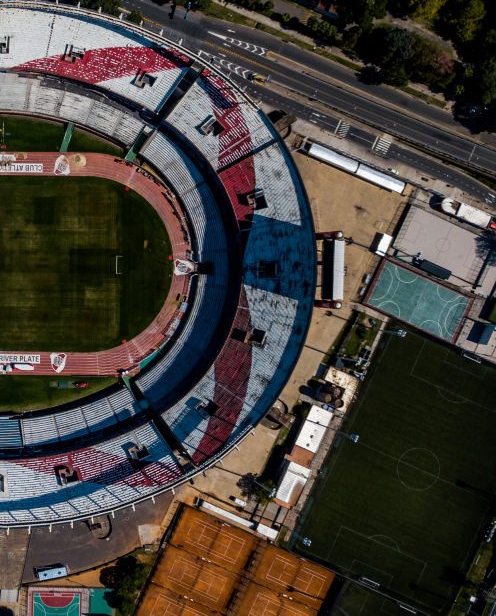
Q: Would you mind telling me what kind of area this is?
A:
sports ground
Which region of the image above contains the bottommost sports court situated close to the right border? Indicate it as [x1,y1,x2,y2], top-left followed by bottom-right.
[362,255,476,346]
